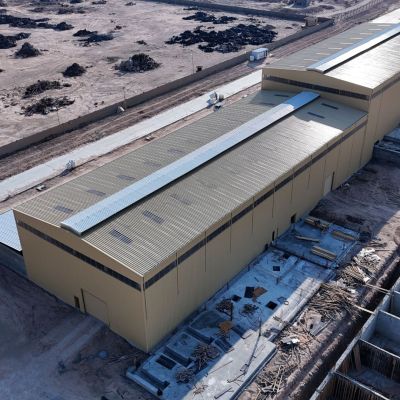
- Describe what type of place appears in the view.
industrial area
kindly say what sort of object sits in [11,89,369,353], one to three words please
warehouse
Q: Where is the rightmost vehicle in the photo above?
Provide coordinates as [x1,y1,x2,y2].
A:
[250,46,268,61]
